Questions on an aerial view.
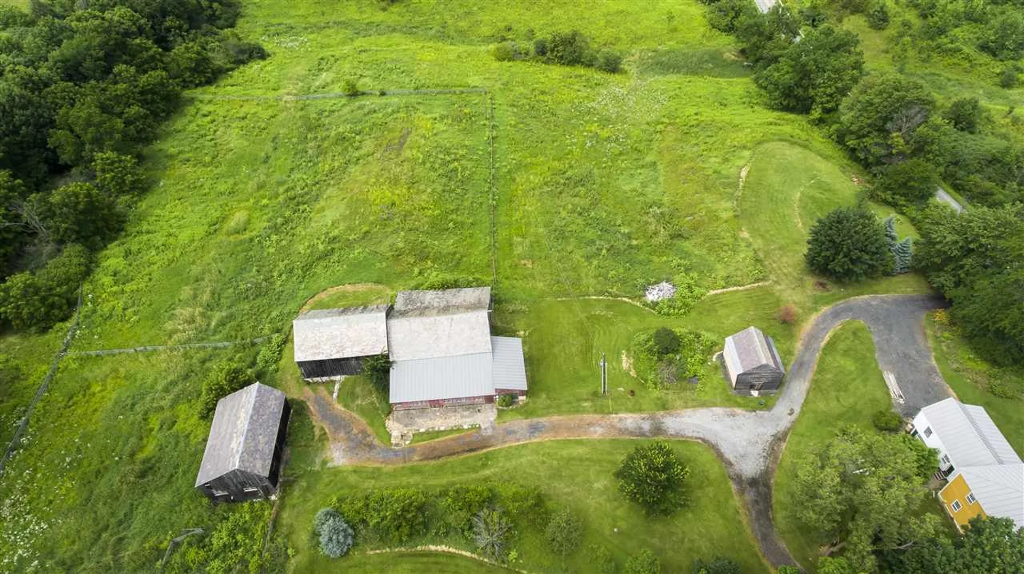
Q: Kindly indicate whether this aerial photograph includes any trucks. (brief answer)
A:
No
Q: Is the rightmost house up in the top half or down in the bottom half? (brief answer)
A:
bottom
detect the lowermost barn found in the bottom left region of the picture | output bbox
[193,382,289,495]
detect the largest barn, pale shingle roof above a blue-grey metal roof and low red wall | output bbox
[388,287,528,413]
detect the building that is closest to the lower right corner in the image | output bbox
[911,395,1024,544]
